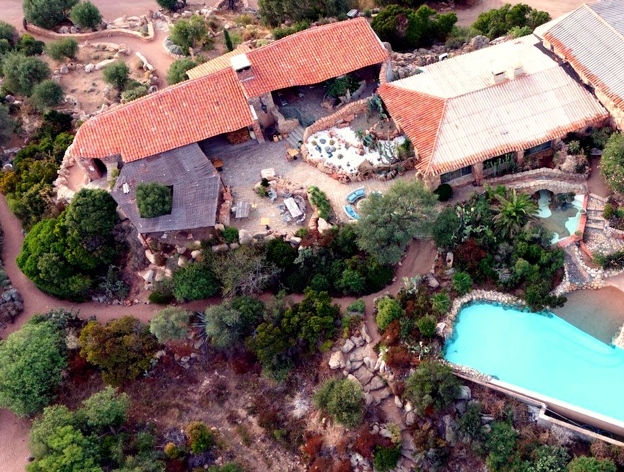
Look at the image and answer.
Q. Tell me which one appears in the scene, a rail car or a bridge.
bridge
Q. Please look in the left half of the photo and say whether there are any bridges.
No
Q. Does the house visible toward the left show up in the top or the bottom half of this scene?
top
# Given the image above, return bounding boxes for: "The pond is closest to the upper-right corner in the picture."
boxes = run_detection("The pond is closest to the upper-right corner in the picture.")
[536,193,594,259]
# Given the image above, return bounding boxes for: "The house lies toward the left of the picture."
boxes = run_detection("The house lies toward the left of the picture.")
[71,16,390,177]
